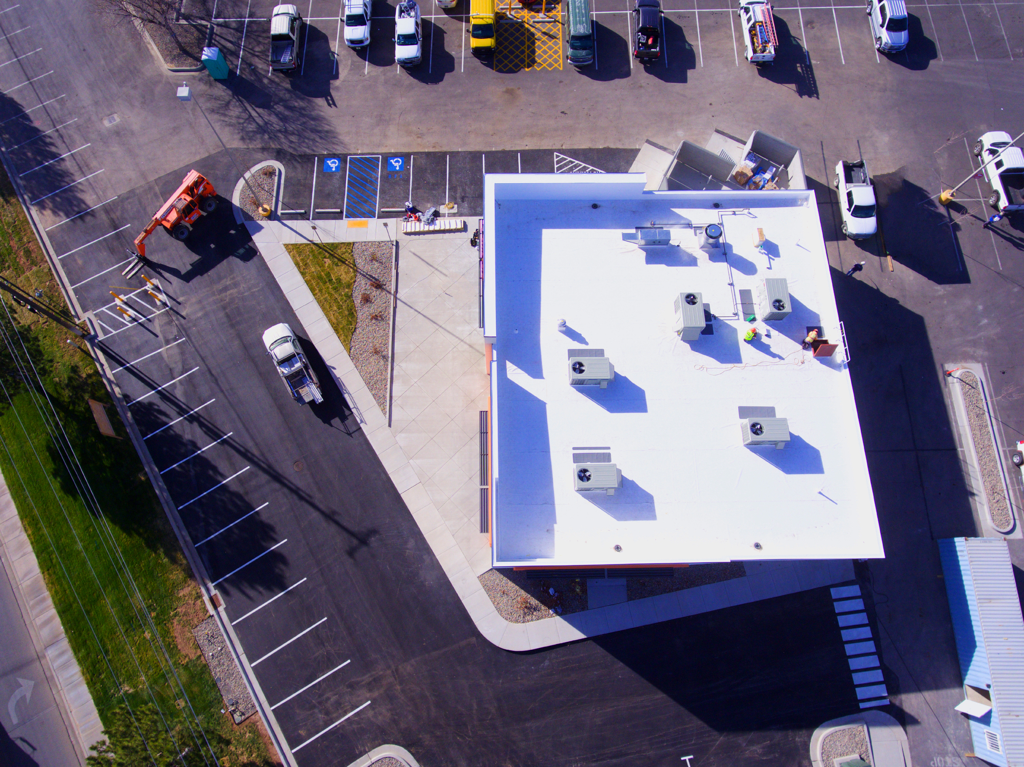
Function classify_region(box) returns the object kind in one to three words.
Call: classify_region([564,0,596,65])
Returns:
van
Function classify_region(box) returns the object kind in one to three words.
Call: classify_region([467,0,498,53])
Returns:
van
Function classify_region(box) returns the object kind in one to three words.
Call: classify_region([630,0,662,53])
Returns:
truck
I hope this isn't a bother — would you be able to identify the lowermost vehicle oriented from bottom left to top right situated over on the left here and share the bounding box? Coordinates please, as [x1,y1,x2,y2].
[132,168,220,272]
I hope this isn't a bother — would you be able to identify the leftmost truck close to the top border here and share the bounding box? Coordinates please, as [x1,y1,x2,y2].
[267,4,301,72]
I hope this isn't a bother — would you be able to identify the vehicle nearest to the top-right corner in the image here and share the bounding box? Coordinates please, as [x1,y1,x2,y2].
[867,0,910,53]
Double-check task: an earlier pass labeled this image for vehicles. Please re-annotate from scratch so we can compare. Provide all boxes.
[980,133,1024,204]
[867,0,910,53]
[743,0,779,54]
[263,323,324,408]
[564,0,596,65]
[342,0,376,47]
[516,0,538,5]
[391,2,423,65]
[436,0,458,9]
[1013,439,1024,471]
[267,4,301,72]
[630,0,662,53]
[467,0,498,53]
[132,168,220,272]
[835,163,878,240]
